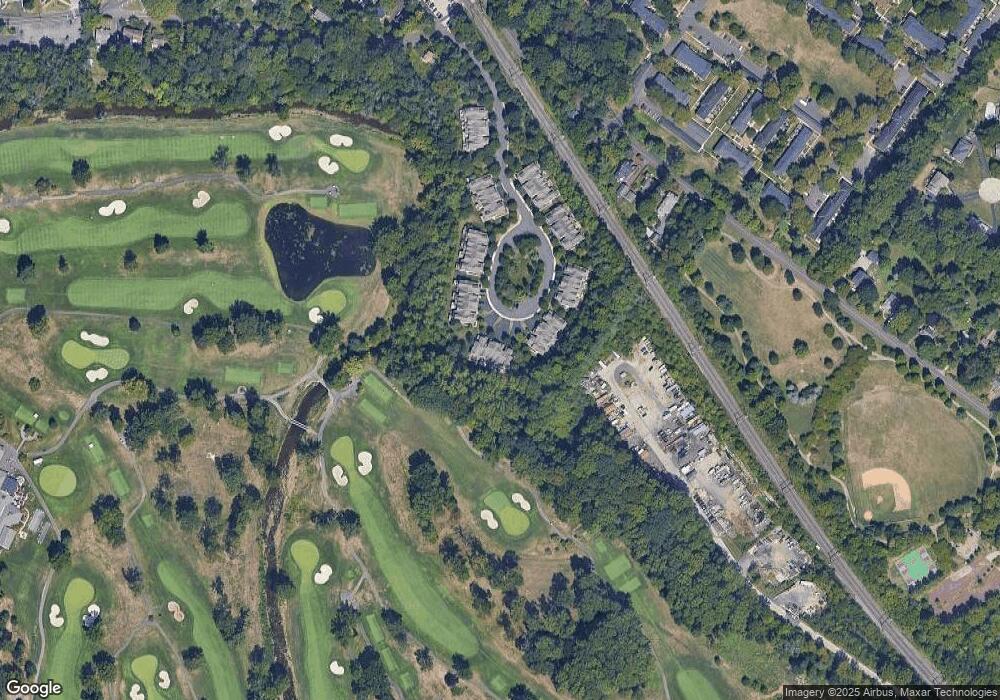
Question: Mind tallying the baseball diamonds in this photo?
1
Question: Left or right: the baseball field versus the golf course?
to its right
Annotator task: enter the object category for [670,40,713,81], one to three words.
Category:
building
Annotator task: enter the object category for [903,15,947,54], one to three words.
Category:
building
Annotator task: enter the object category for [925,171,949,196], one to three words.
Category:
house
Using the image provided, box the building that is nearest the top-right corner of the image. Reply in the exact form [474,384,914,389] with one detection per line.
[953,0,985,40]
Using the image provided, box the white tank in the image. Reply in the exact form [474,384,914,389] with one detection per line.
[979,178,1000,203]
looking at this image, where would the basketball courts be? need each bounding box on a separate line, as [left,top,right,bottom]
[896,547,936,586]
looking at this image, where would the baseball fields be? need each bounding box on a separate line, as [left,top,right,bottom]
[843,361,983,526]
